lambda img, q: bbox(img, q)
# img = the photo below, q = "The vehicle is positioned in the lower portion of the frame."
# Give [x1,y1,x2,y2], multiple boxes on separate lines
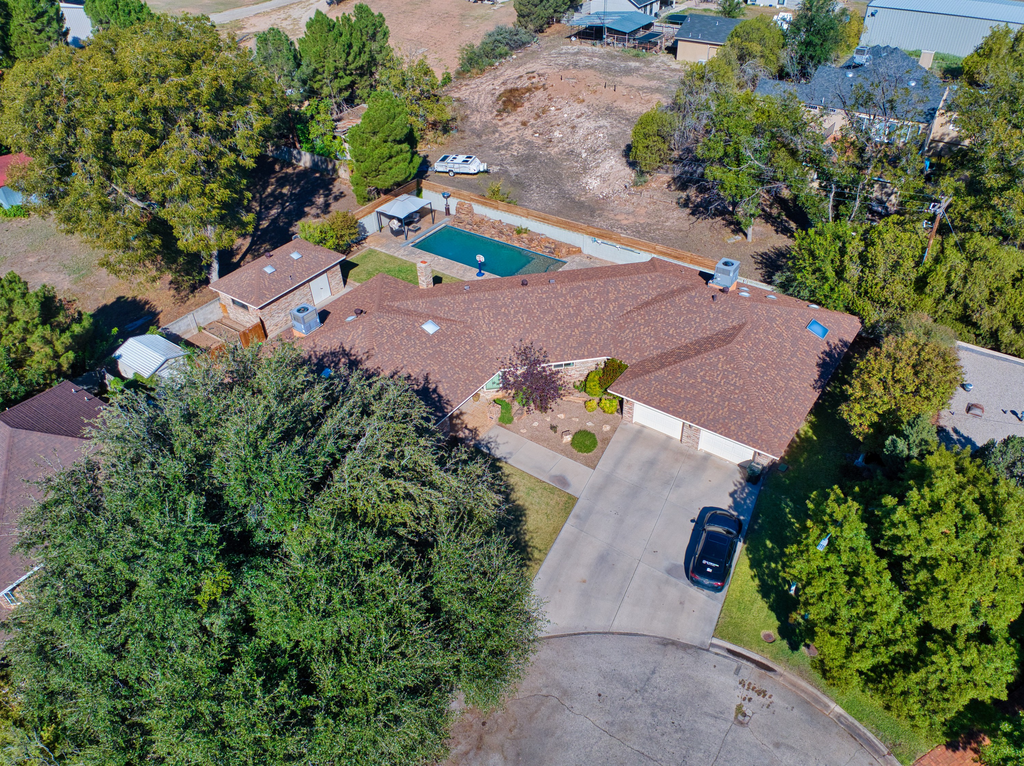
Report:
[692,507,749,590]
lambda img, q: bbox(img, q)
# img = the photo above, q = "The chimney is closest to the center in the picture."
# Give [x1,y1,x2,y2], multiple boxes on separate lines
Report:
[417,258,436,288]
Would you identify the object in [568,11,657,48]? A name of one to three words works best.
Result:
barn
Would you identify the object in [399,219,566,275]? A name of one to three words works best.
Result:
swimming pool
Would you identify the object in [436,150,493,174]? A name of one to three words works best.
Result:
trailer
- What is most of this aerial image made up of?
trees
